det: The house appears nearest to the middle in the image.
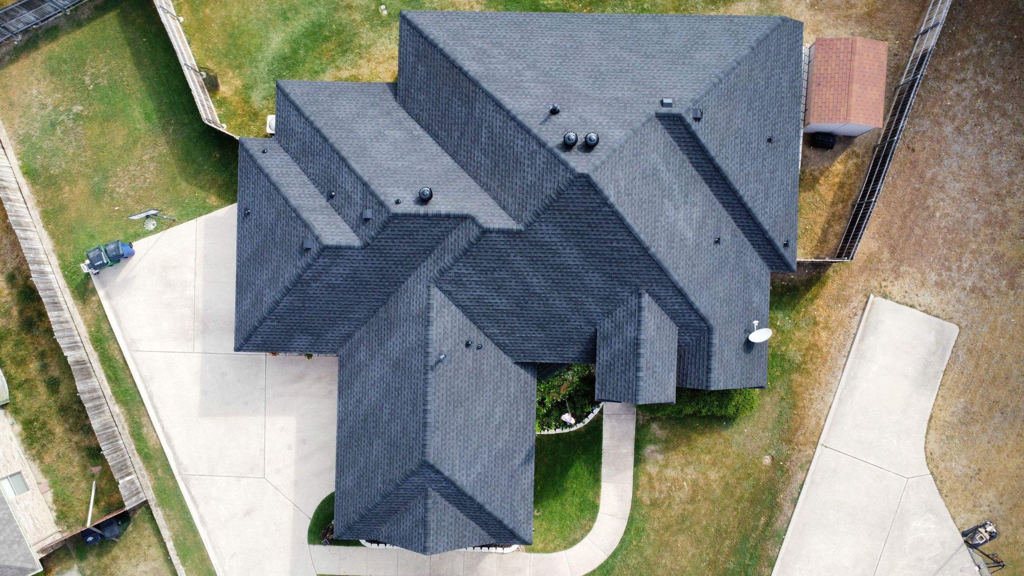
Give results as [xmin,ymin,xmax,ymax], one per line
[232,8,807,560]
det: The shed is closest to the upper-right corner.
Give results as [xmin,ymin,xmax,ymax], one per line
[804,37,888,136]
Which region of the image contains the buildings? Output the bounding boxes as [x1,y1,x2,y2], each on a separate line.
[232,8,807,560]
[0,404,61,576]
[804,37,888,136]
